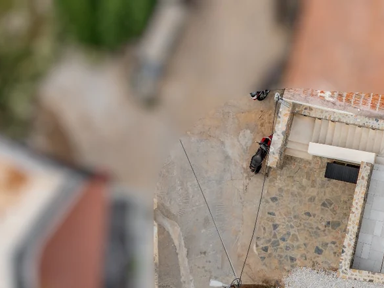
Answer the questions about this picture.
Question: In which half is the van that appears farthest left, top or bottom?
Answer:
top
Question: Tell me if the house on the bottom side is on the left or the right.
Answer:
left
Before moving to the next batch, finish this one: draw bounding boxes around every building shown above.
[284,0,384,123]
[0,131,121,288]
